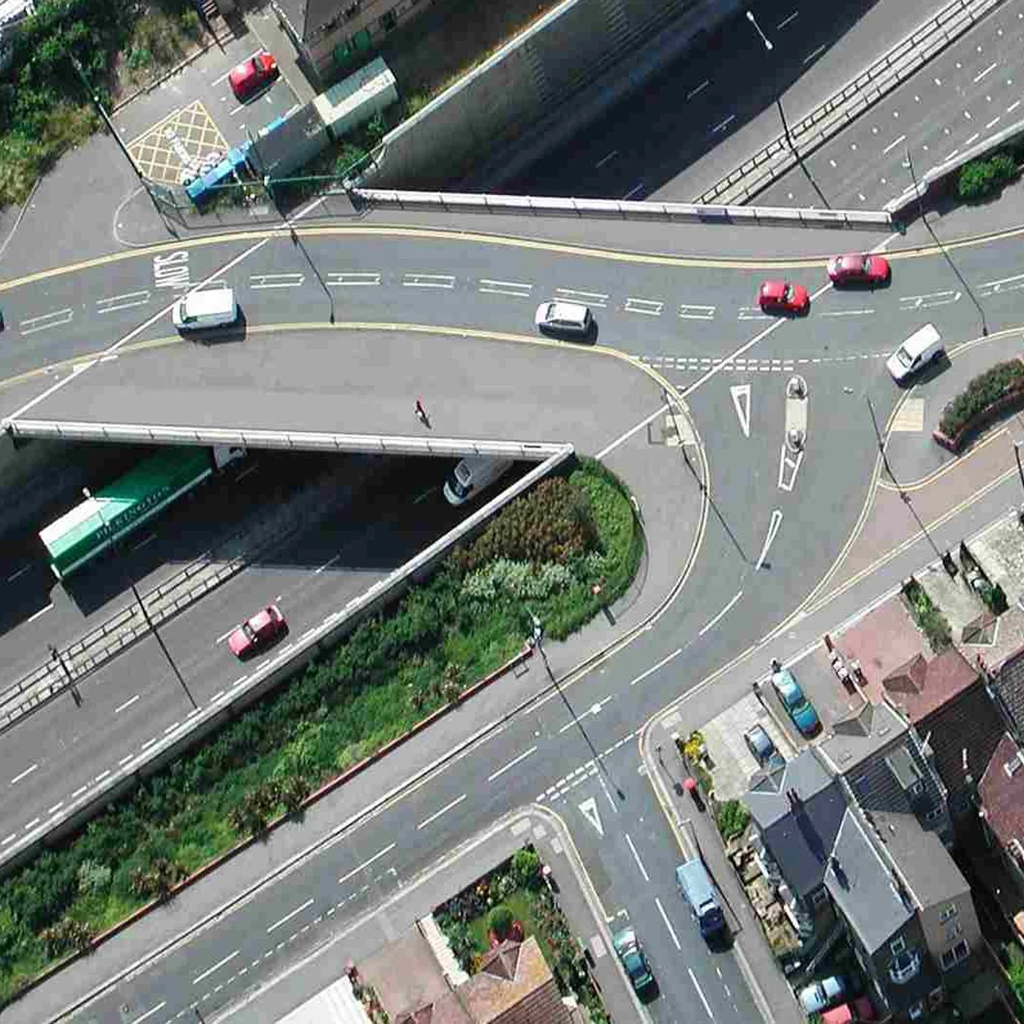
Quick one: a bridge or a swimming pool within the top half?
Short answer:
bridge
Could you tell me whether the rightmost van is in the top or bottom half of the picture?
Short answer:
top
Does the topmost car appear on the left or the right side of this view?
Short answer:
left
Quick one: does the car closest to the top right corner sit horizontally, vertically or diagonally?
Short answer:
horizontally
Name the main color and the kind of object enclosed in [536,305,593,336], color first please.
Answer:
white car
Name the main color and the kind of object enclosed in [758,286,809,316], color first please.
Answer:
red car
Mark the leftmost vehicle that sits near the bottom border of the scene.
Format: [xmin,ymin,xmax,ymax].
[611,933,655,995]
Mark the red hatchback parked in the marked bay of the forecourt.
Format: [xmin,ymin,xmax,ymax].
[229,54,279,91]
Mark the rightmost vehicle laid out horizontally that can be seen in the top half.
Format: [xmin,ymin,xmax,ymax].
[828,258,889,287]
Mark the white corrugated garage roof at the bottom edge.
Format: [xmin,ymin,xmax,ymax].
[276,975,375,1024]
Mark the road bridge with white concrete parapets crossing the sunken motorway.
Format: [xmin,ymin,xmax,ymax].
[5,184,901,473]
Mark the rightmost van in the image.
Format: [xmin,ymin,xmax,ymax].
[887,327,946,381]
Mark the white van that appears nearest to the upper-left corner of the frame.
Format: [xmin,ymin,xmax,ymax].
[176,296,238,331]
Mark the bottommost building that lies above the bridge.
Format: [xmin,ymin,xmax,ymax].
[314,62,403,161]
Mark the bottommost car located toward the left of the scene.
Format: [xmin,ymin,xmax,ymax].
[227,612,286,659]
